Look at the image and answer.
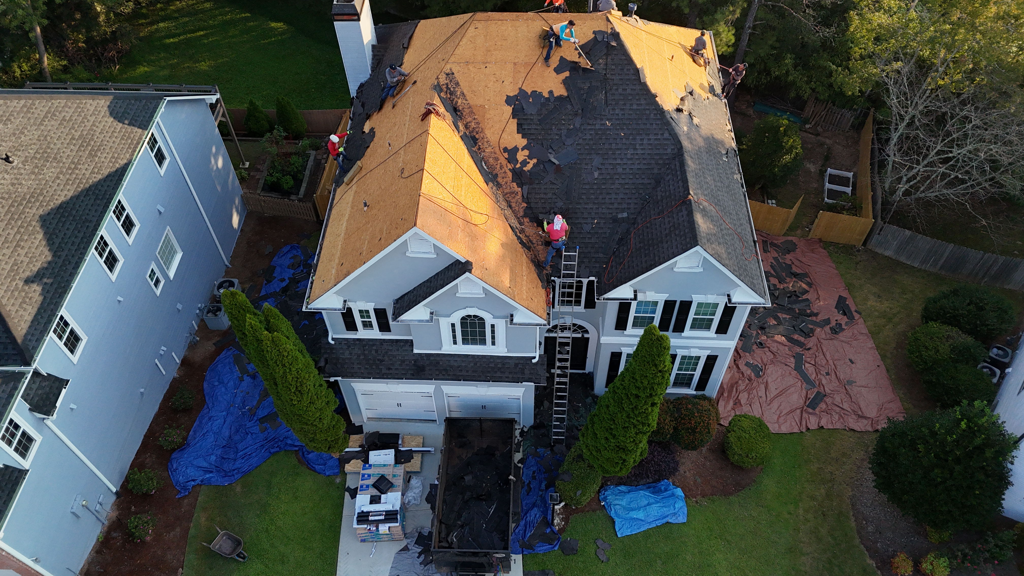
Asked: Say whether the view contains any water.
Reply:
No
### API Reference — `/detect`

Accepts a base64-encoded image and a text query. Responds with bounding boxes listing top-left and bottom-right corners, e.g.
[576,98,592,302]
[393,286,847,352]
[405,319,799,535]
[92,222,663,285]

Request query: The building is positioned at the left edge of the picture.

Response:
[0,92,246,576]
